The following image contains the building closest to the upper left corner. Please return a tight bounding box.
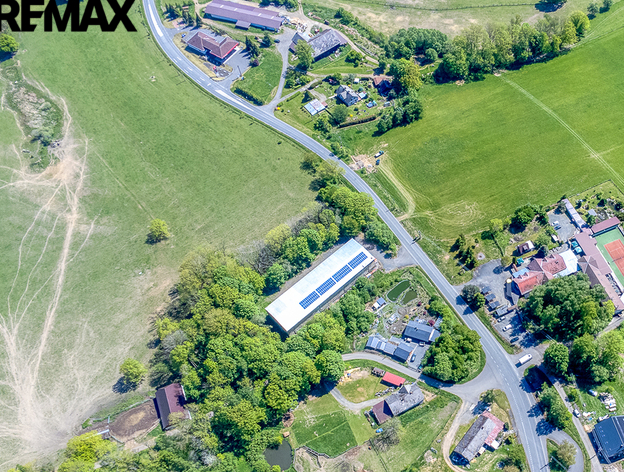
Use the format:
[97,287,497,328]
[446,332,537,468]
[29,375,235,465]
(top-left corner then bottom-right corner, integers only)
[186,33,239,62]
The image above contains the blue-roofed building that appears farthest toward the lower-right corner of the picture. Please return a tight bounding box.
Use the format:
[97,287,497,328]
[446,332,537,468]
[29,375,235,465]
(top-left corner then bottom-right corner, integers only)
[591,416,624,461]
